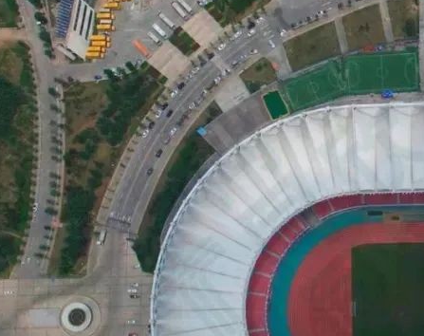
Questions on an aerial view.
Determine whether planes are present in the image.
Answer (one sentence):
No, there's no plane here.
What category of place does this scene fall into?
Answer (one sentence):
This looks like a sports ground.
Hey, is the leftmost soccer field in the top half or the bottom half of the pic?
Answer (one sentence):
The top half of the photo is where the leftmost soccer field is.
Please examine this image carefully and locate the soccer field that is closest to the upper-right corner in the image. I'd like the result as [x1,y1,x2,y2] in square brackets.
[342,46,419,95]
